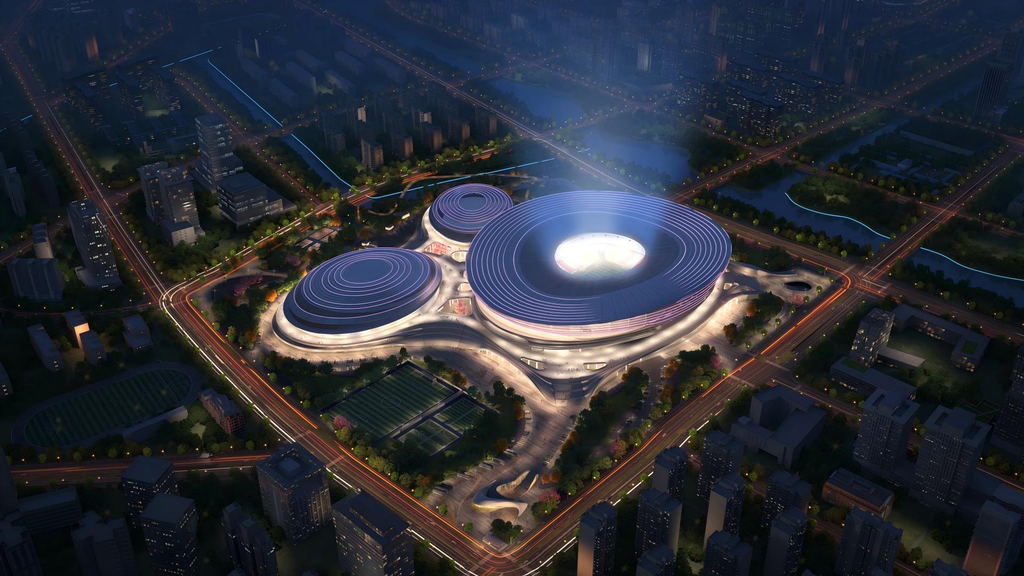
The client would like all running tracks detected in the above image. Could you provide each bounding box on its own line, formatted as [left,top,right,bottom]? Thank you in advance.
[6,361,201,454]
